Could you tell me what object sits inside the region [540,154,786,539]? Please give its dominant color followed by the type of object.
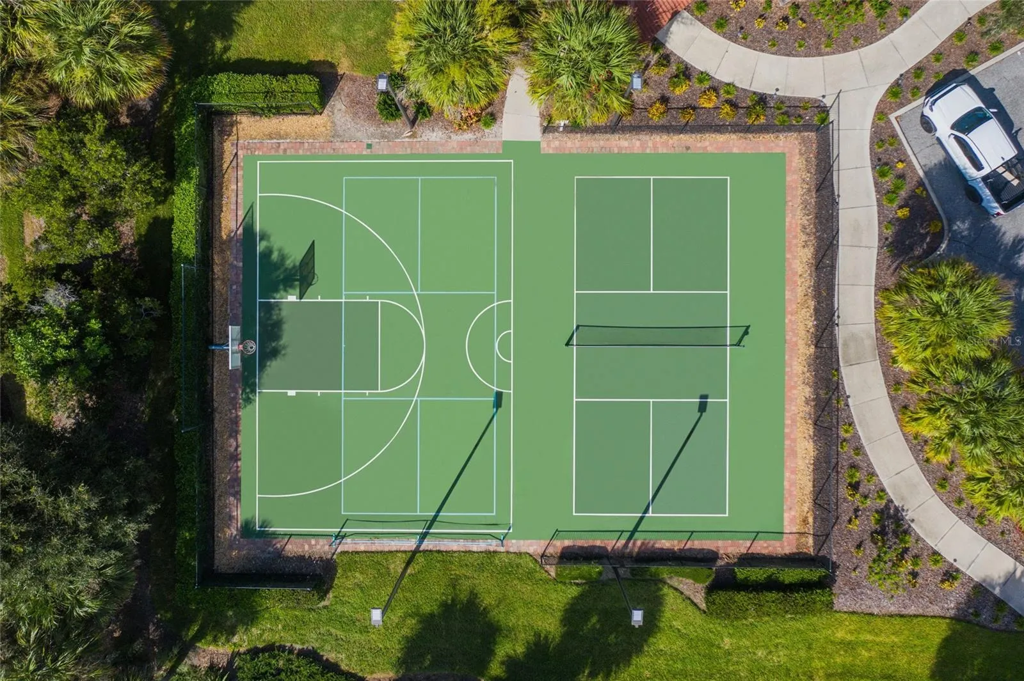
green sports court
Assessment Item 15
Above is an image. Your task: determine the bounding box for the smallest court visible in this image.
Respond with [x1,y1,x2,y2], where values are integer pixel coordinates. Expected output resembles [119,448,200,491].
[341,177,497,515]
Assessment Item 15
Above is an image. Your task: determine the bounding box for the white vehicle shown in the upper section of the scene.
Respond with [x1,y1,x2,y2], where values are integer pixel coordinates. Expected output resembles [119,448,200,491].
[918,75,1024,221]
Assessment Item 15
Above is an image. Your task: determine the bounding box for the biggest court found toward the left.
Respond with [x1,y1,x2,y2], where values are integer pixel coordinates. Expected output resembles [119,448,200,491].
[241,141,542,539]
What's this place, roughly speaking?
sports ground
